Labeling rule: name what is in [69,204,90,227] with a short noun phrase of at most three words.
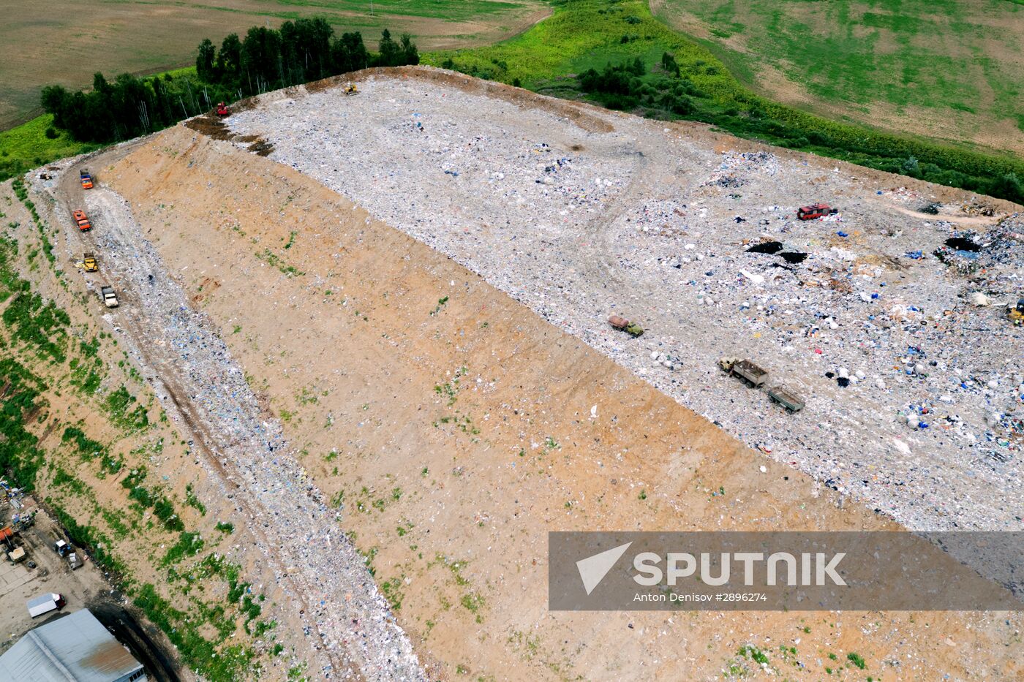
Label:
truck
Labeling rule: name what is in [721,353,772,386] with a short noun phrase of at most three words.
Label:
truck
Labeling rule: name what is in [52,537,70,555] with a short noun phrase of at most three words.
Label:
work vehicle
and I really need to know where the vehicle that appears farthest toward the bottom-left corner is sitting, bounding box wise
[23,593,65,616]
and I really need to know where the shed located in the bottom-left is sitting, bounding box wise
[0,609,146,682]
